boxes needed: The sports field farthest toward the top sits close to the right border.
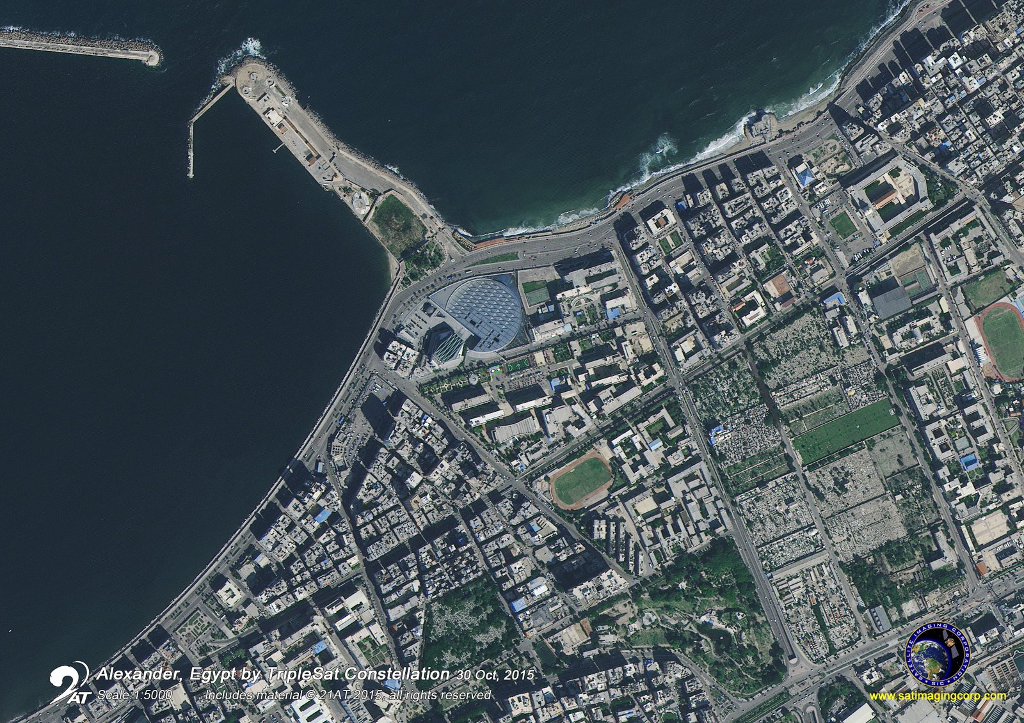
[963,270,1013,307]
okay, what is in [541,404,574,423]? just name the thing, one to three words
building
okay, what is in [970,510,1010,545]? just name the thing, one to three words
sports court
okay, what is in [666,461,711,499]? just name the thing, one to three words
building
